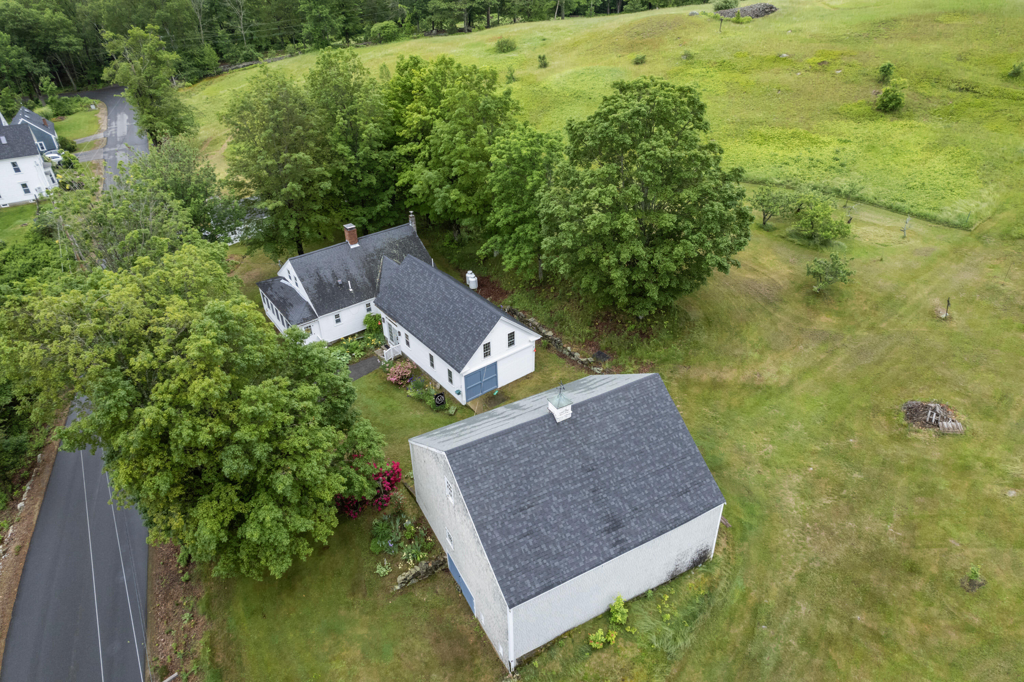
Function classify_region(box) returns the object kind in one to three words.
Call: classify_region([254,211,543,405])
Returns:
house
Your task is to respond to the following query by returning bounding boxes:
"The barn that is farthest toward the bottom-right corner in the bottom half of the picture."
[407,373,726,670]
